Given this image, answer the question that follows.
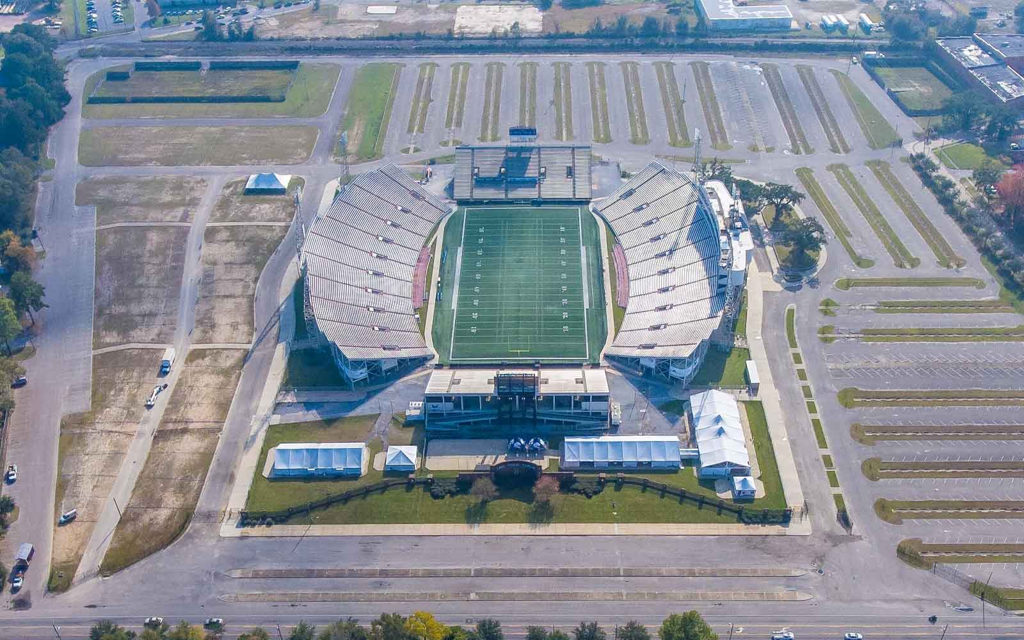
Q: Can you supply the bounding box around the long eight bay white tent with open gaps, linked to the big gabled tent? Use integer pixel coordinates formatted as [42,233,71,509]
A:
[563,436,680,468]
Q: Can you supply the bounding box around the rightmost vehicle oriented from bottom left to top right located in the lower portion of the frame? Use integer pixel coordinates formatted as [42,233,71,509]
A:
[144,380,163,404]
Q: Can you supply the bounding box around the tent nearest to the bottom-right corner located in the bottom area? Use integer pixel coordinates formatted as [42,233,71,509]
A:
[733,474,755,491]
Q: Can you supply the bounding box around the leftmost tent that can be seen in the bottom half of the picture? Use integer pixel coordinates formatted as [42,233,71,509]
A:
[273,442,367,474]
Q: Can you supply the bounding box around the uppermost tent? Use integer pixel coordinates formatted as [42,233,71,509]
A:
[244,172,288,193]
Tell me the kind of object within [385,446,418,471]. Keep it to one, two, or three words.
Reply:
tent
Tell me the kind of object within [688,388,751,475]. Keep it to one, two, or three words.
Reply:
tent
